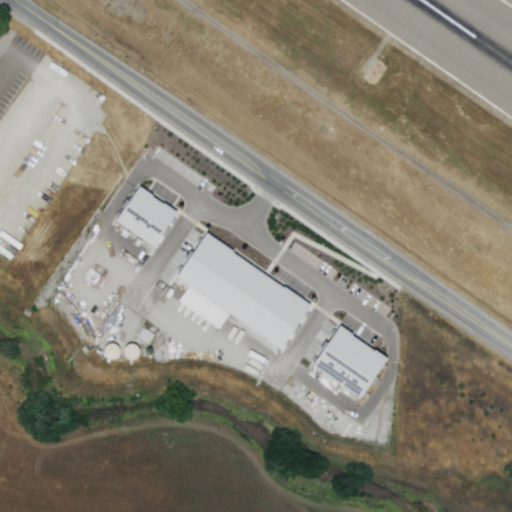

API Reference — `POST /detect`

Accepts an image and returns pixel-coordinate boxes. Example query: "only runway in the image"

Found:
[328,0,512,128]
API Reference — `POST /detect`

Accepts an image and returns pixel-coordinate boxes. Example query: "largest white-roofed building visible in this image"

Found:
[176,232,314,352]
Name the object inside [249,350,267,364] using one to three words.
vehicle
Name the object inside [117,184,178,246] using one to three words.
building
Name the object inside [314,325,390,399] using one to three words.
building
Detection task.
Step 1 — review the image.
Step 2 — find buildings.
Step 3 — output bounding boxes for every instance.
[117,184,178,246]
[176,232,314,352]
[314,325,390,399]
[138,328,155,345]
